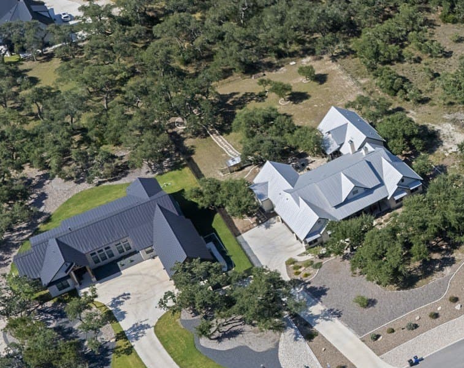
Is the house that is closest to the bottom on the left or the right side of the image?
left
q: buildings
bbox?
[218,150,242,171]
[249,106,425,247]
[0,0,57,53]
[11,178,214,297]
